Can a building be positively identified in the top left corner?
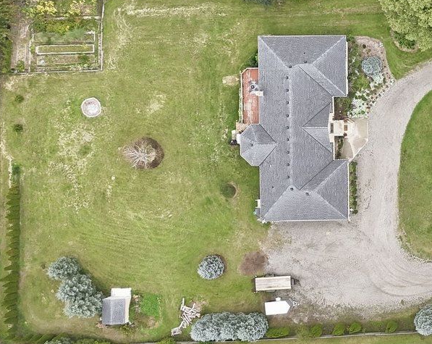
No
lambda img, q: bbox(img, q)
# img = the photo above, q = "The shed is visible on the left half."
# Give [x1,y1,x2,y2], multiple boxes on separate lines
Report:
[104,286,138,326]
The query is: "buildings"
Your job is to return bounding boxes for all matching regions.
[240,35,352,222]
[104,286,138,326]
